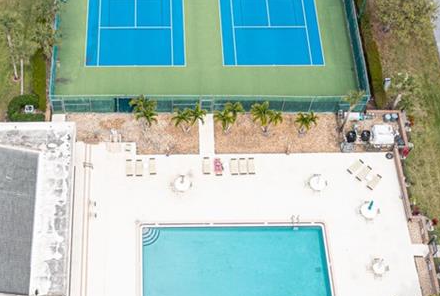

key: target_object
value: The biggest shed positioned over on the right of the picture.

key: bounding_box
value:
[371,126,398,147]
